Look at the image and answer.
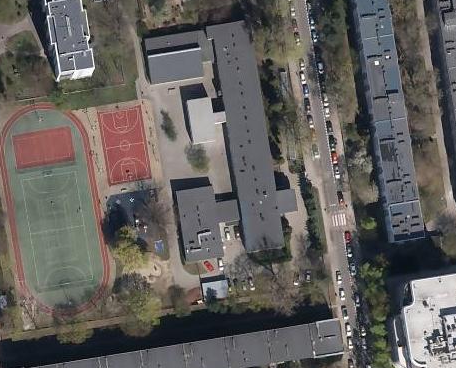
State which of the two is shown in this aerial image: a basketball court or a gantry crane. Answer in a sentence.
Visible in the photo is a basketball court.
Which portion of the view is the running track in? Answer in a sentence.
You can find the running track in the left area of the picture.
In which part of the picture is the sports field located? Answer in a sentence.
The sports field is located in the left region of the scene.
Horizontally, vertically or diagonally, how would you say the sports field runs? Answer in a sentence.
The sports field is laid out vertically.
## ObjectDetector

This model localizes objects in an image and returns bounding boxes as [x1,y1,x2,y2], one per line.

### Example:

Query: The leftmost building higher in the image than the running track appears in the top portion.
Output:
[41,0,94,82]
